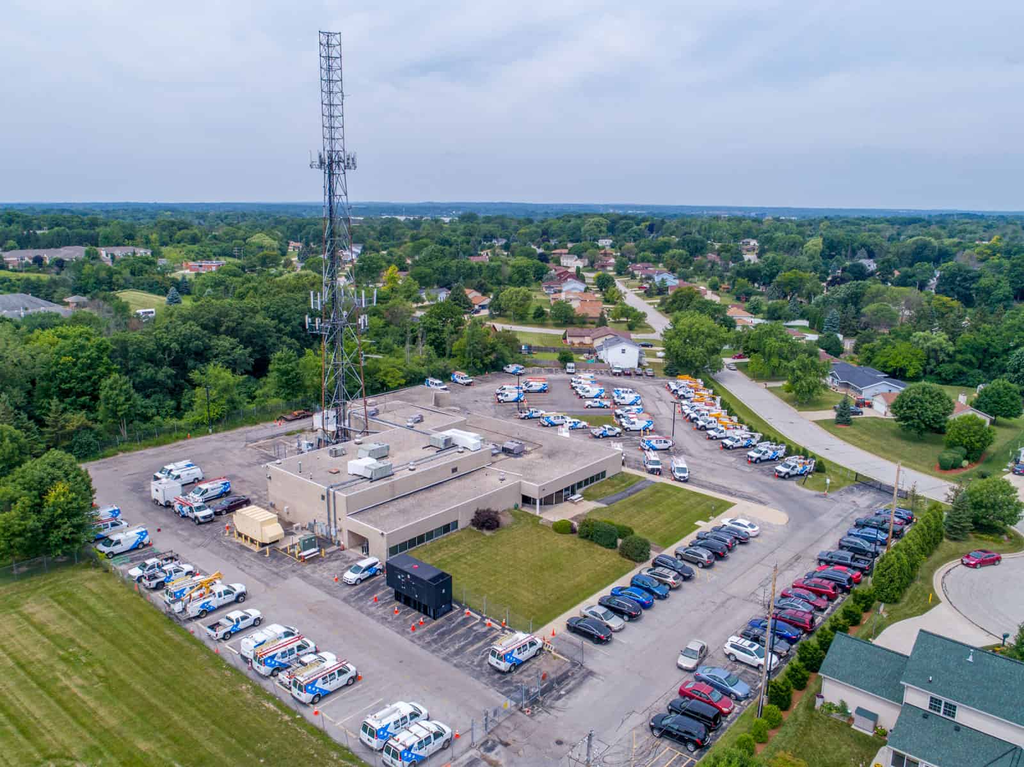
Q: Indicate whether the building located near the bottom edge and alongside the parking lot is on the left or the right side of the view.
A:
right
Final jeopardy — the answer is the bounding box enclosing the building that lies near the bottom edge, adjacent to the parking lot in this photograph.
[818,631,1024,767]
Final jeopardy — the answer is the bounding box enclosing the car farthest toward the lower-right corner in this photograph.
[959,551,1003,570]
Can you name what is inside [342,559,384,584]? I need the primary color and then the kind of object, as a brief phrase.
white car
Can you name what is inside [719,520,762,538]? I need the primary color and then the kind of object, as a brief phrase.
white car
